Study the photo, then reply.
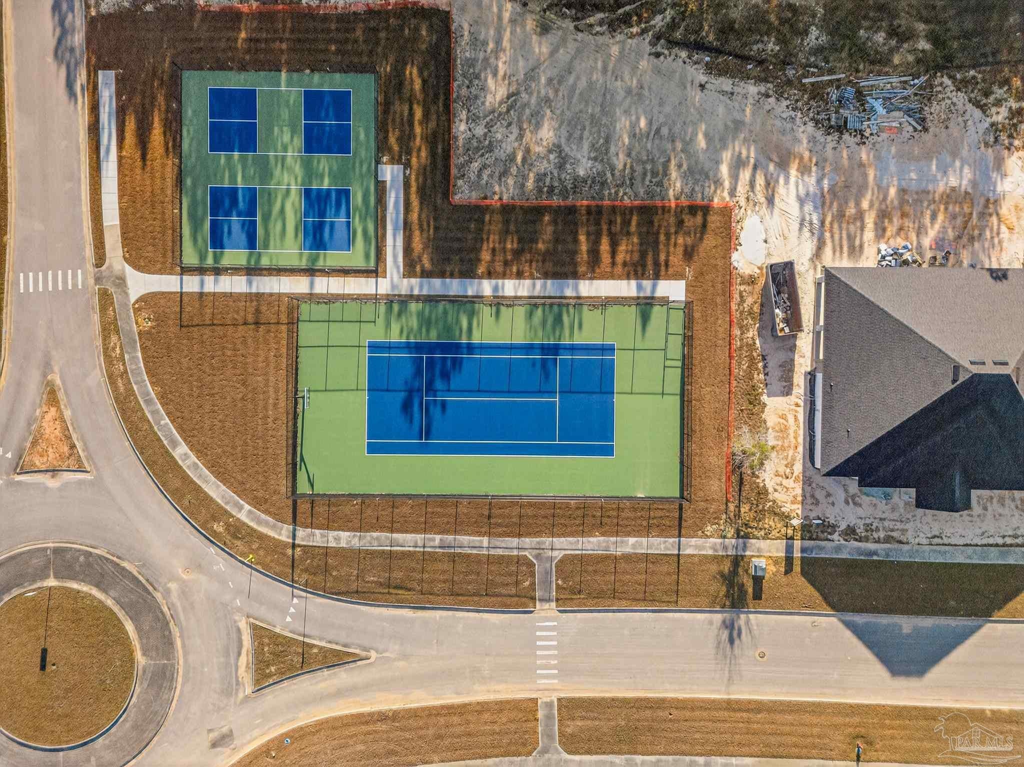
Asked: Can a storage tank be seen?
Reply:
No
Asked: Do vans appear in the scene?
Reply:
No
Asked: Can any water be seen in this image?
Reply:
No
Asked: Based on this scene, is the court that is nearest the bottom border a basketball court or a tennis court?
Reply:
tennis court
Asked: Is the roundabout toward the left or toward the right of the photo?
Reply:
left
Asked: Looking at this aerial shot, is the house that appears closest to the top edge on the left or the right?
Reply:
right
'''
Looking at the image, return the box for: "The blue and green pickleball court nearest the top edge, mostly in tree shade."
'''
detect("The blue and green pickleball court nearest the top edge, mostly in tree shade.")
[181,71,378,170]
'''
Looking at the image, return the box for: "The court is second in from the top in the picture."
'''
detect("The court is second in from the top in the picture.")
[181,170,376,267]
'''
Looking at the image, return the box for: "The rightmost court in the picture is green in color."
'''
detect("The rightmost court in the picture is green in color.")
[296,303,686,499]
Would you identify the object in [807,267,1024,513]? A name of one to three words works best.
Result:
house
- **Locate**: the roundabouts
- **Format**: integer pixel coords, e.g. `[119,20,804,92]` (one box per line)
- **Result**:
[0,539,180,767]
